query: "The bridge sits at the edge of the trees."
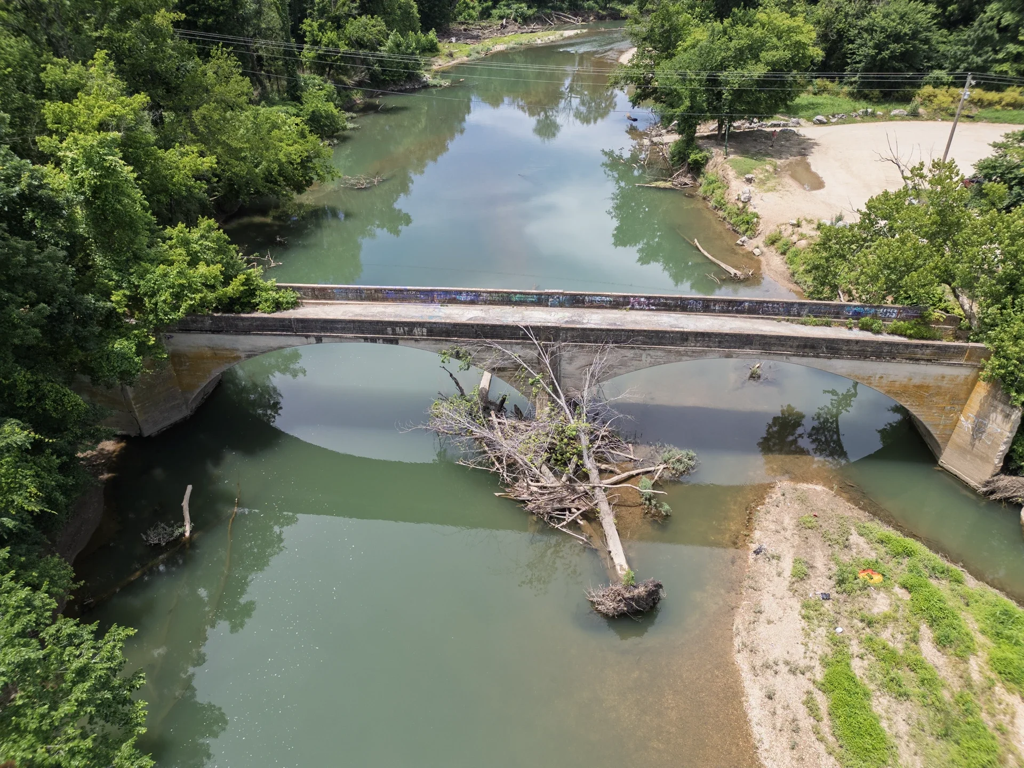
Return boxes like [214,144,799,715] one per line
[125,281,1024,485]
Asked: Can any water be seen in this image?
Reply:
Yes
